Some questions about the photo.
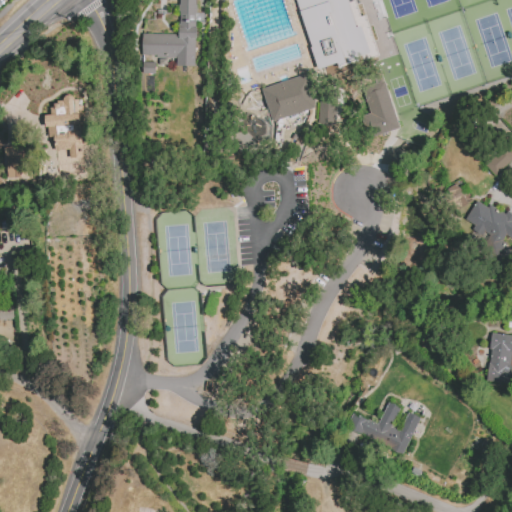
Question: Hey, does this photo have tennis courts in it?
Yes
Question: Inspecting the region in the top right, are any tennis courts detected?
Yes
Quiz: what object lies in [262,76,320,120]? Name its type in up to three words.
building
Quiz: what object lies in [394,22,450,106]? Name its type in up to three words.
tennis court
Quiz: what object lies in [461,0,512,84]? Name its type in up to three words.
tennis court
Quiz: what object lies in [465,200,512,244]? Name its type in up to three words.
house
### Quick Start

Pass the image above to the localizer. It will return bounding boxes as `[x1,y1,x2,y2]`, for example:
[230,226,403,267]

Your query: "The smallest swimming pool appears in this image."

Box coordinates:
[252,44,302,73]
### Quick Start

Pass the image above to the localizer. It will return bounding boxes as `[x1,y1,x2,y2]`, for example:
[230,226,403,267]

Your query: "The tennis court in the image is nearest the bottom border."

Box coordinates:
[162,288,205,366]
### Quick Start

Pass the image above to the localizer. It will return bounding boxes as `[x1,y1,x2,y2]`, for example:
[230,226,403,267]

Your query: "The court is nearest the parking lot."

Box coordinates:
[196,208,240,284]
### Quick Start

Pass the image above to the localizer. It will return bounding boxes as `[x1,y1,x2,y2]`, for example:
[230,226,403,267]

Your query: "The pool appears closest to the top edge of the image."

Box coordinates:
[234,0,295,51]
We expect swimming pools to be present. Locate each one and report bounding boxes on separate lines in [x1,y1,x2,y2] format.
[252,44,302,73]
[234,0,295,51]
